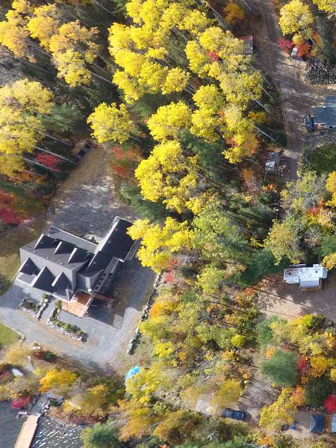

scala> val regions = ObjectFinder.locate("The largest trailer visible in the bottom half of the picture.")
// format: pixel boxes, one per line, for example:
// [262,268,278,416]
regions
[278,263,327,295]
